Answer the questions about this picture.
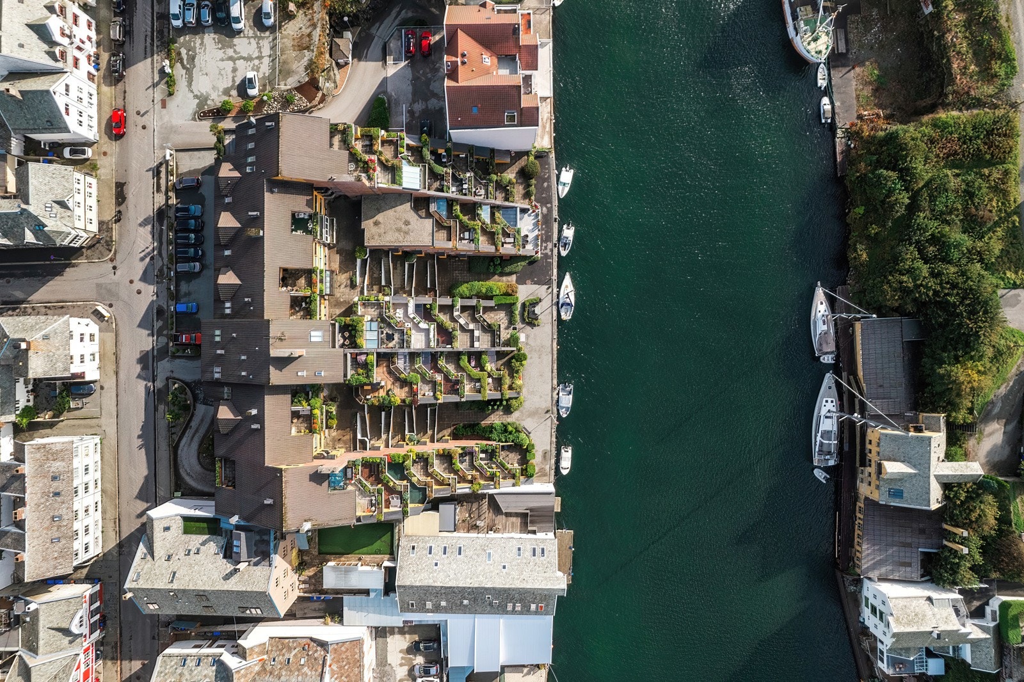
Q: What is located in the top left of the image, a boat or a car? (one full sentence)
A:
It is a car that can be seen in the top left of the image.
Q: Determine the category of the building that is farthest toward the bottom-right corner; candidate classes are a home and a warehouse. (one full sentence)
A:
It looks like the building that is farthest toward the bottom-right corner is a home.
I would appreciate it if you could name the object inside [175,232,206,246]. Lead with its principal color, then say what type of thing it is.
black car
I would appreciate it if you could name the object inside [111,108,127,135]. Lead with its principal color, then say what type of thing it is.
red car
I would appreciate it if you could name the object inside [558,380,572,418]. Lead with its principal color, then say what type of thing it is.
white boat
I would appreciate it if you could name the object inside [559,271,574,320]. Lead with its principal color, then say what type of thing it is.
white boat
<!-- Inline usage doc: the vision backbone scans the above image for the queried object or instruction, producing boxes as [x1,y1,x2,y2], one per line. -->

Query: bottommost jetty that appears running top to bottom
[555,530,573,583]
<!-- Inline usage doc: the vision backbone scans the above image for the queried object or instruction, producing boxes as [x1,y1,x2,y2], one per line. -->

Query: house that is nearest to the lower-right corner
[864,583,1001,674]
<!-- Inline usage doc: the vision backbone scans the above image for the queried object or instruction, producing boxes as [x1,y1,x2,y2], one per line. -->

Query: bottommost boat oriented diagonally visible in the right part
[810,465,830,482]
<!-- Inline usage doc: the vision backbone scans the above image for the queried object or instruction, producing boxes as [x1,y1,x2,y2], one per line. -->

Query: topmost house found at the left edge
[0,0,97,87]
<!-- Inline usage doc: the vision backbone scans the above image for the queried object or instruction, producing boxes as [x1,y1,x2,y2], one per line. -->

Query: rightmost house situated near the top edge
[444,0,552,147]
